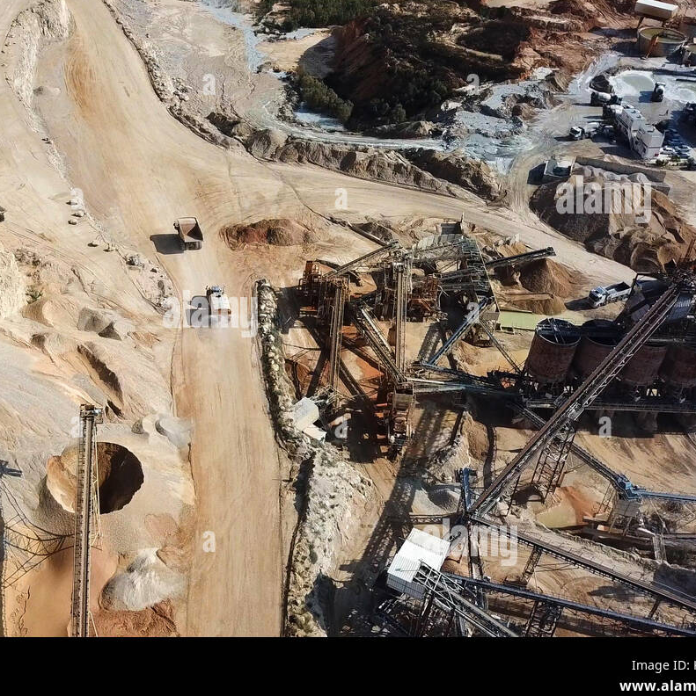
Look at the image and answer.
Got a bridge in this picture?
Yes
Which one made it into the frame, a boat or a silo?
silo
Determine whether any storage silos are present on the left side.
No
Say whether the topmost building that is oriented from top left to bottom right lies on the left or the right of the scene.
right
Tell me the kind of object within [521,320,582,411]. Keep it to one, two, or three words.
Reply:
silo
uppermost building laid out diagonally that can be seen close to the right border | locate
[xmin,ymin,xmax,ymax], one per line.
[600,114,676,172]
